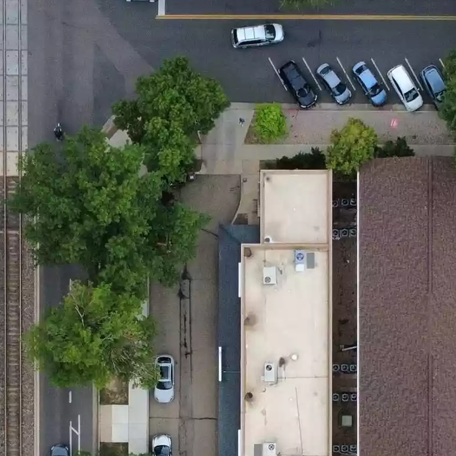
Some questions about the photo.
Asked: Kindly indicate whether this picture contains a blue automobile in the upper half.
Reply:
Yes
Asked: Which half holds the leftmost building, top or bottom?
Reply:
bottom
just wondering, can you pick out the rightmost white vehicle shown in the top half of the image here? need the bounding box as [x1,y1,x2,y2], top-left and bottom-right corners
[385,61,422,115]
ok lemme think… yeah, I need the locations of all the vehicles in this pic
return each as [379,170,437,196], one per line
[279,57,317,113]
[154,354,176,403]
[315,60,351,109]
[418,61,455,116]
[350,60,386,110]
[230,18,284,52]
[51,443,71,456]
[151,435,174,456]
[385,61,422,115]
